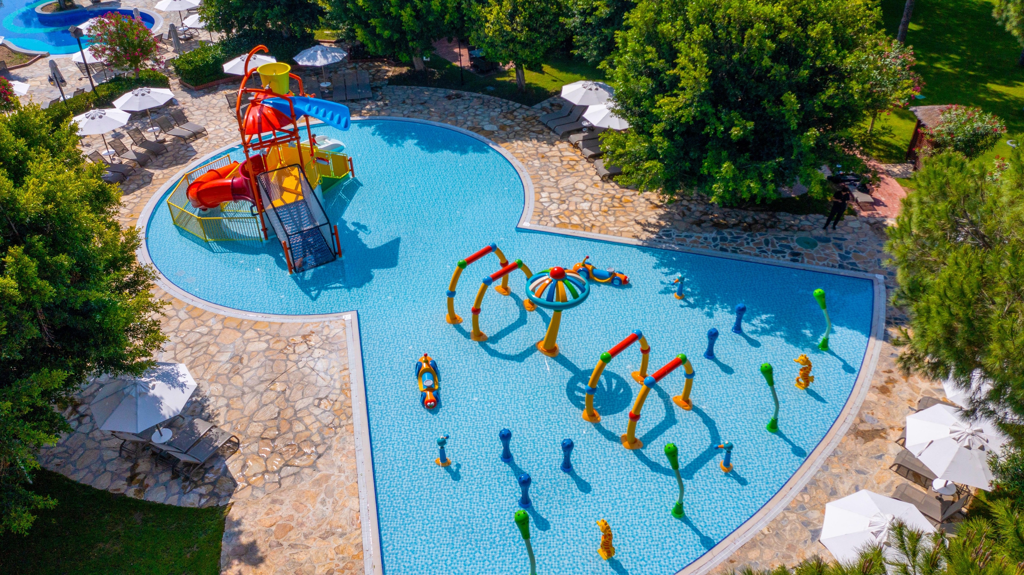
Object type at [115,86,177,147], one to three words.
umbrella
